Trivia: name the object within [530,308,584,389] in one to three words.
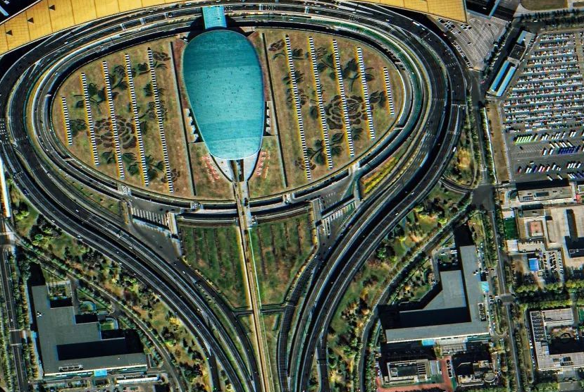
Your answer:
building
